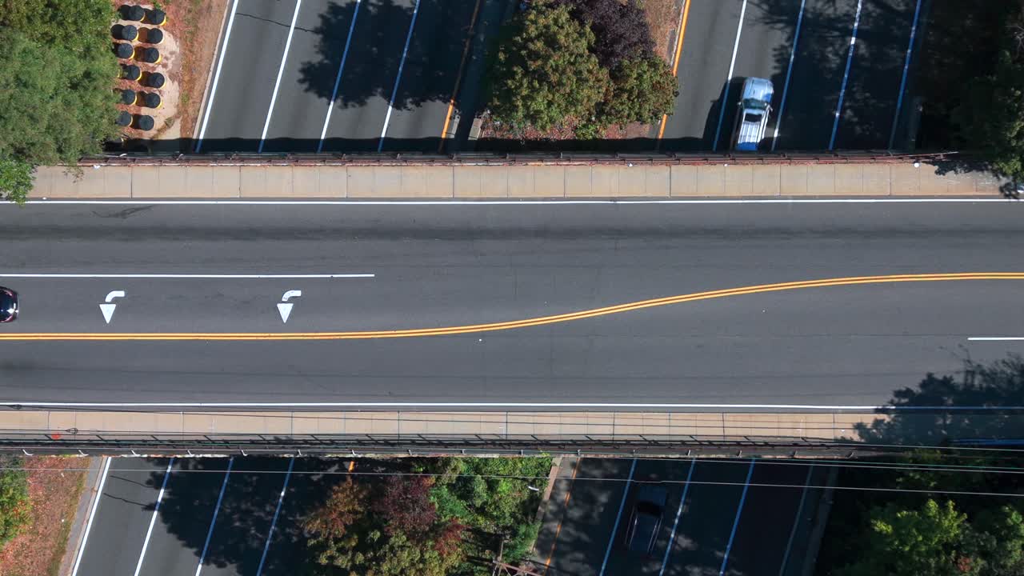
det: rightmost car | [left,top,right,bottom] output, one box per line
[726,76,773,158]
